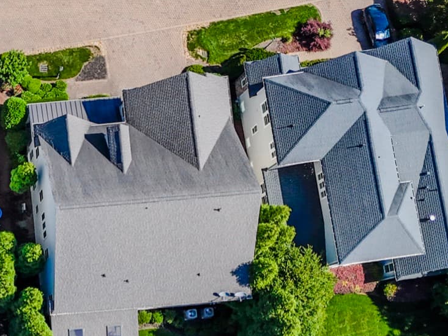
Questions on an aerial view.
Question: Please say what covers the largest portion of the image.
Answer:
buildings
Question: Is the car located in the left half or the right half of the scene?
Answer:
right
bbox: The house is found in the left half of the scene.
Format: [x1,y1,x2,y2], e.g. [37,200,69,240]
[27,72,268,336]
